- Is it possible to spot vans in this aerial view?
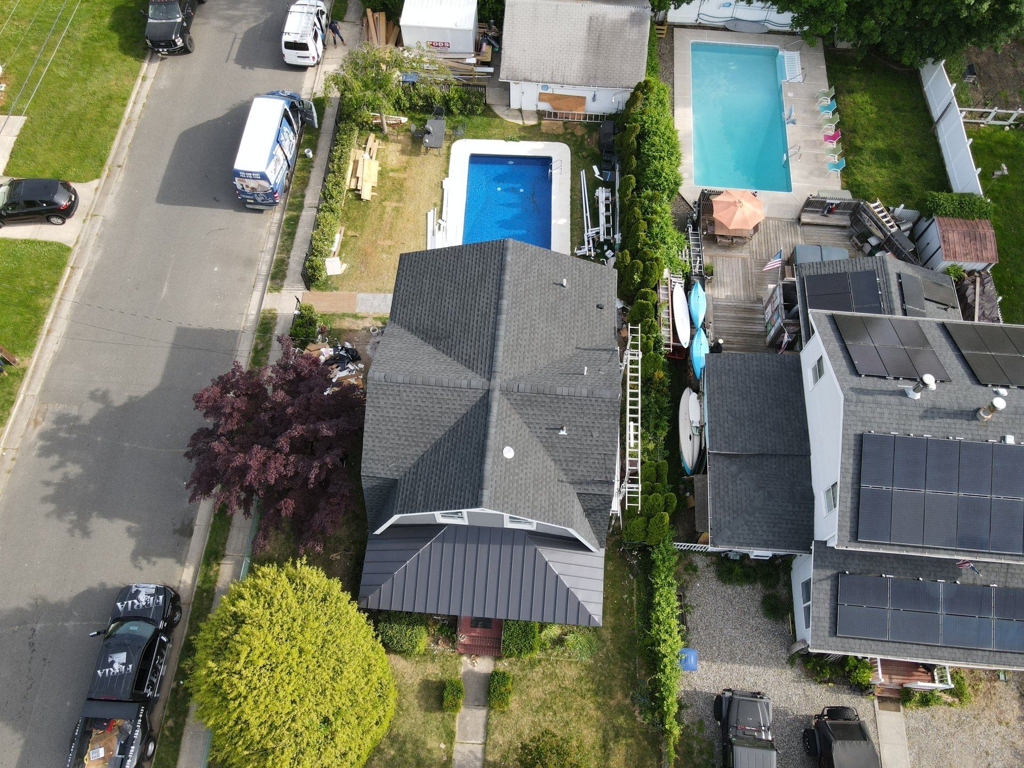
Yes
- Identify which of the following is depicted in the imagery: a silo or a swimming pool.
swimming pool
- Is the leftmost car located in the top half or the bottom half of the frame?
top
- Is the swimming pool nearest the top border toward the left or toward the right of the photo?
right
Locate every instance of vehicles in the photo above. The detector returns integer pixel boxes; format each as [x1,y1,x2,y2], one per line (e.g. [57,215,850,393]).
[67,582,180,768]
[283,0,336,72]
[0,179,82,230]
[231,92,326,212]
[713,690,781,768]
[806,706,875,768]
[150,0,219,55]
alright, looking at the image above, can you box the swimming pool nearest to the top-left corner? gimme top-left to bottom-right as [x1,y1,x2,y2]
[449,140,570,256]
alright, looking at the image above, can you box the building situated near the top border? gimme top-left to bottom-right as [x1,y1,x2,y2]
[499,0,641,115]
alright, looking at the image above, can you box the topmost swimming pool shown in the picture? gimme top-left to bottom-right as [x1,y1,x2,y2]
[682,40,813,192]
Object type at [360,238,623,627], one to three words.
house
